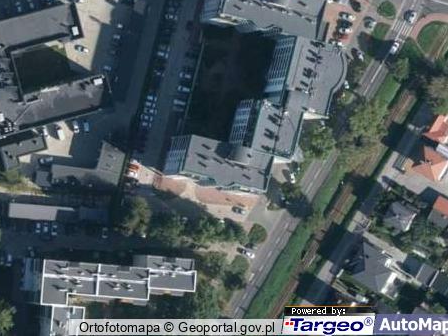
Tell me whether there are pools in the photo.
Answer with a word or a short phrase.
No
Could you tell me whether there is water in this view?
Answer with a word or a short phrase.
No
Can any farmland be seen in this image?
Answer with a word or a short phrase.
No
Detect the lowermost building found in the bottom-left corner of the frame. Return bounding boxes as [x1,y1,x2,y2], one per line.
[42,305,84,336]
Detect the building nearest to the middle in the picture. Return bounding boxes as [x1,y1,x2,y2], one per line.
[166,134,273,195]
